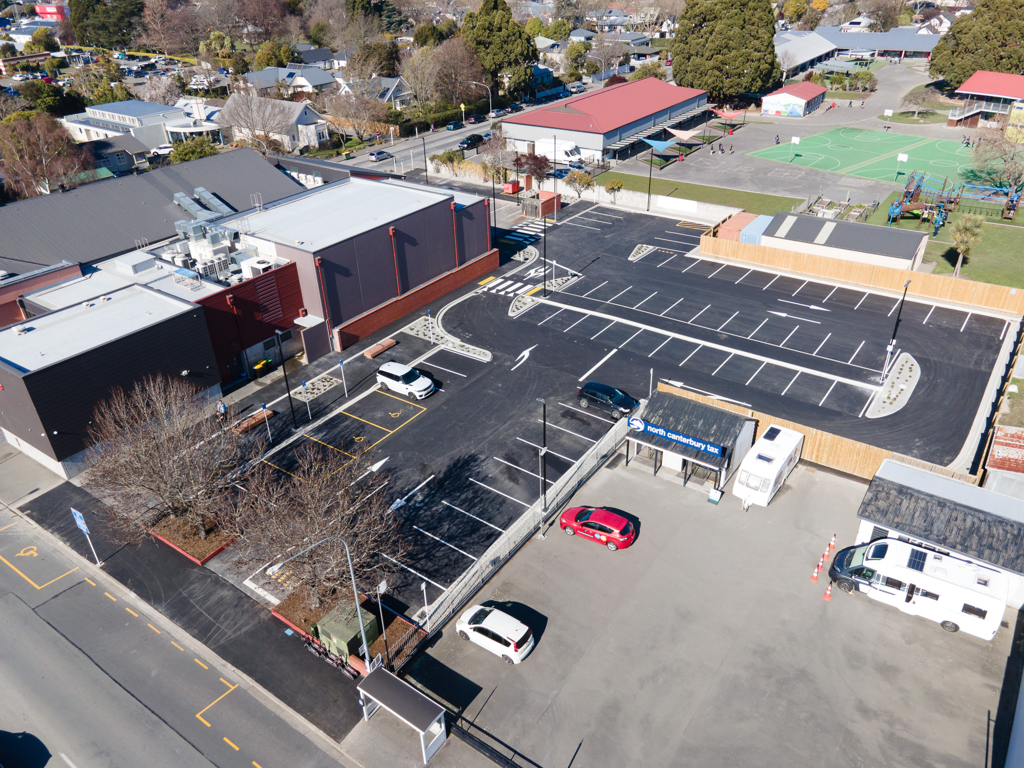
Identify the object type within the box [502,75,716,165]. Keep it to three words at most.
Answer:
building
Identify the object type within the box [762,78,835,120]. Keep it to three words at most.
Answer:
shed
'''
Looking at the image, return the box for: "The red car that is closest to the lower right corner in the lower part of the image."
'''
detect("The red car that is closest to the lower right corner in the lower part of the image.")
[558,502,640,550]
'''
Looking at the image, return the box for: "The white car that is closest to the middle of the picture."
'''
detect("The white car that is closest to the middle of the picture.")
[377,357,440,399]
